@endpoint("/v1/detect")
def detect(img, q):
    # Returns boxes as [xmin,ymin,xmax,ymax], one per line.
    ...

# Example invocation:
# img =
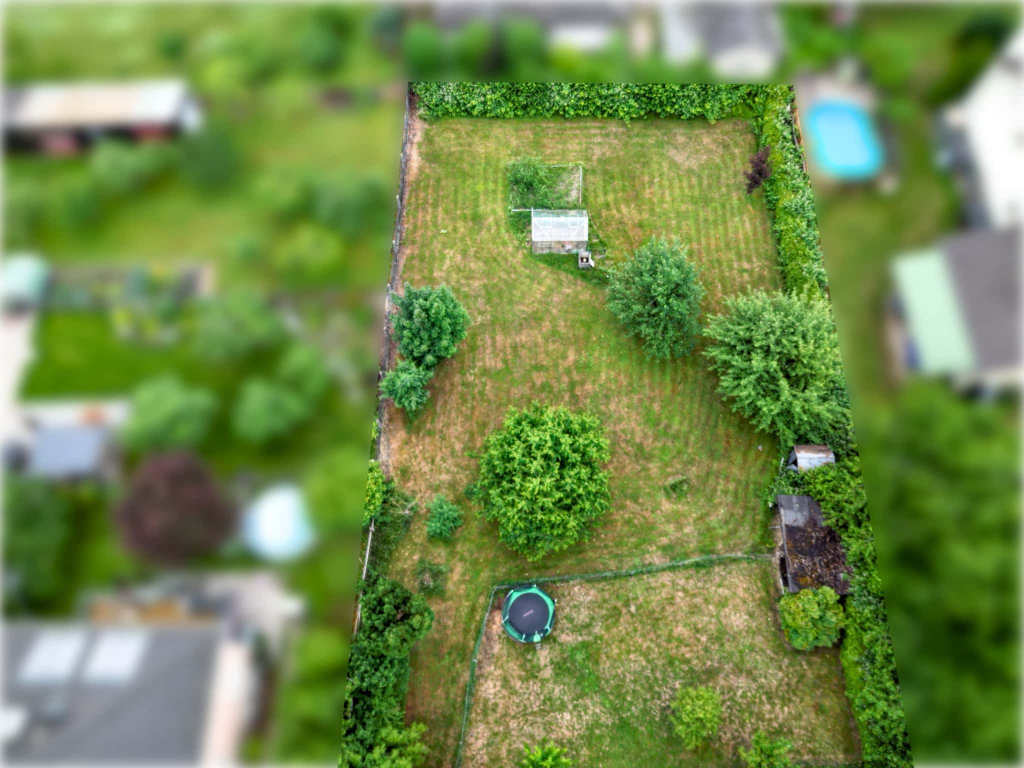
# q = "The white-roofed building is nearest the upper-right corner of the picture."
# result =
[919,29,1024,237]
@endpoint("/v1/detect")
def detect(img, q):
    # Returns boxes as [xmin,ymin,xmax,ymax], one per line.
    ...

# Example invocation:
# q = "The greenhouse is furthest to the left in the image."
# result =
[0,261,57,314]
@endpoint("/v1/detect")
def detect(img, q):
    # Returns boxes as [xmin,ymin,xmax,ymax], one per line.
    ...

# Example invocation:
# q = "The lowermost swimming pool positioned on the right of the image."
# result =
[804,106,882,182]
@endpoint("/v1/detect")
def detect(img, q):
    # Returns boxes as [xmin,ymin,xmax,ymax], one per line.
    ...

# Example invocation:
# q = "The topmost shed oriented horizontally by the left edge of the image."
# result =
[0,82,185,151]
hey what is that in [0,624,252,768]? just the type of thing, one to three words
house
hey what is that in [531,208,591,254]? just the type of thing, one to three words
greenhouse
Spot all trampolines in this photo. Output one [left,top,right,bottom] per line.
[501,585,556,645]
